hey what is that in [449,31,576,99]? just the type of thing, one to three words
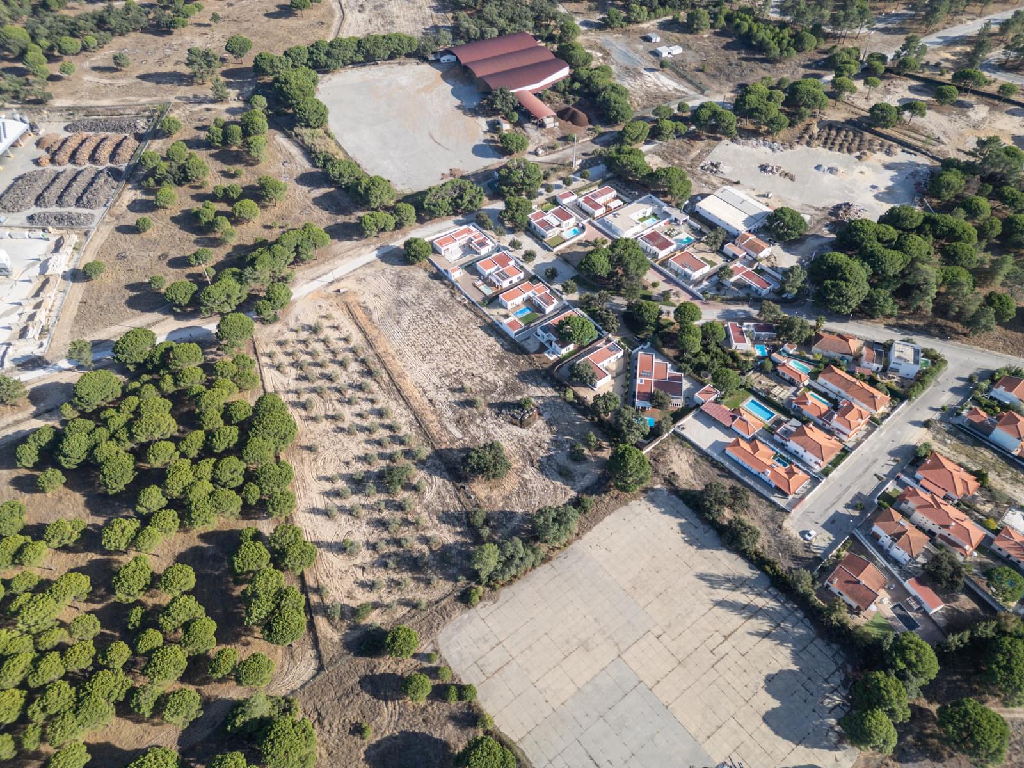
barn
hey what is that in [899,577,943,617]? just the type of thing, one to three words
shed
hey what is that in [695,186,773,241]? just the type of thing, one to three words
building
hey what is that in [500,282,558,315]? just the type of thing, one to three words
house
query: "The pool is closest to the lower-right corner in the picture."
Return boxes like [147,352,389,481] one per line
[889,600,922,631]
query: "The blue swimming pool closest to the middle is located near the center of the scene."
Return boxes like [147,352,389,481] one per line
[512,305,534,319]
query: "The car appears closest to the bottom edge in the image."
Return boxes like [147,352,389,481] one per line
[803,529,817,542]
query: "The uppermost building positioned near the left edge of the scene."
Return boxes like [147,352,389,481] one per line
[0,118,35,169]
